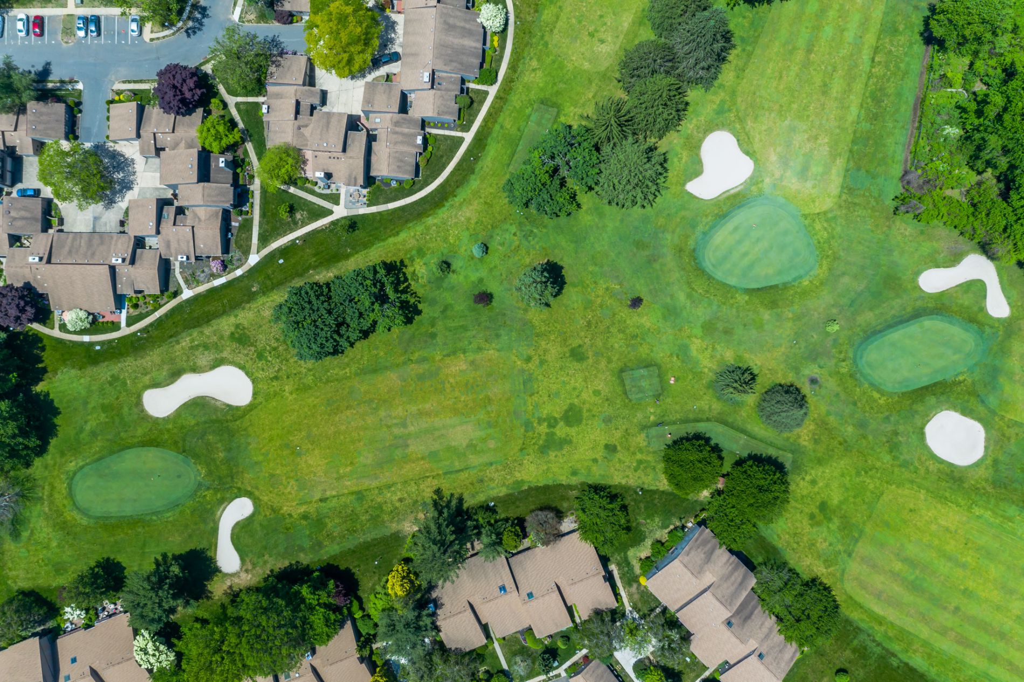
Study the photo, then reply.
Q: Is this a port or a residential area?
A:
residential area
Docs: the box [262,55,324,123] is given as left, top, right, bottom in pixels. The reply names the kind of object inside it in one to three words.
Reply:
house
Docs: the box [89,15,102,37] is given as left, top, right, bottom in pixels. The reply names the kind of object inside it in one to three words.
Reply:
vehicle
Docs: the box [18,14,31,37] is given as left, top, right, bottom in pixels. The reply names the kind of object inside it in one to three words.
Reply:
vehicle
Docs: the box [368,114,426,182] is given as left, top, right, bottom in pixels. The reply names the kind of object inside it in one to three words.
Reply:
house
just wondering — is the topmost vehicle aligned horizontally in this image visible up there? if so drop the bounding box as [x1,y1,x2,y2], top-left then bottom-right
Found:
[371,52,402,68]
